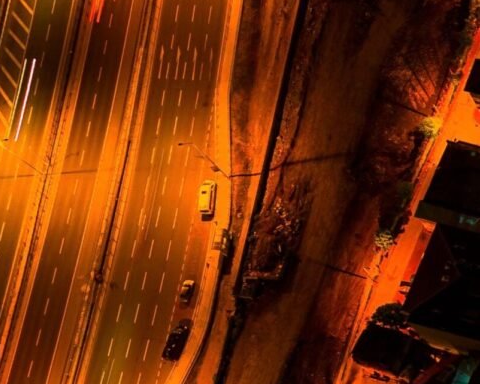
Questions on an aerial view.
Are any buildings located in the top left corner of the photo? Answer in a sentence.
No, there's no building to be seen in the top left corner of the photo.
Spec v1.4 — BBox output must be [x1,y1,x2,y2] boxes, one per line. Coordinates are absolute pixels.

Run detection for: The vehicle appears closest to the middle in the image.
[199,181,215,217]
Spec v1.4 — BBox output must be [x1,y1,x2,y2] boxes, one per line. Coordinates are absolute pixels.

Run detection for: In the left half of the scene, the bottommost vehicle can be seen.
[164,321,187,360]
